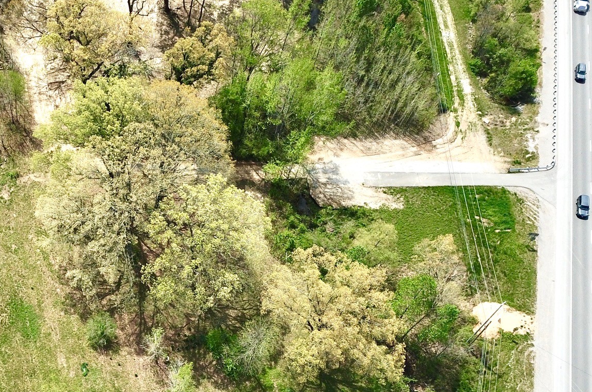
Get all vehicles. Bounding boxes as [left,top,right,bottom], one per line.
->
[576,60,588,81]
[577,192,591,217]
[575,0,592,13]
